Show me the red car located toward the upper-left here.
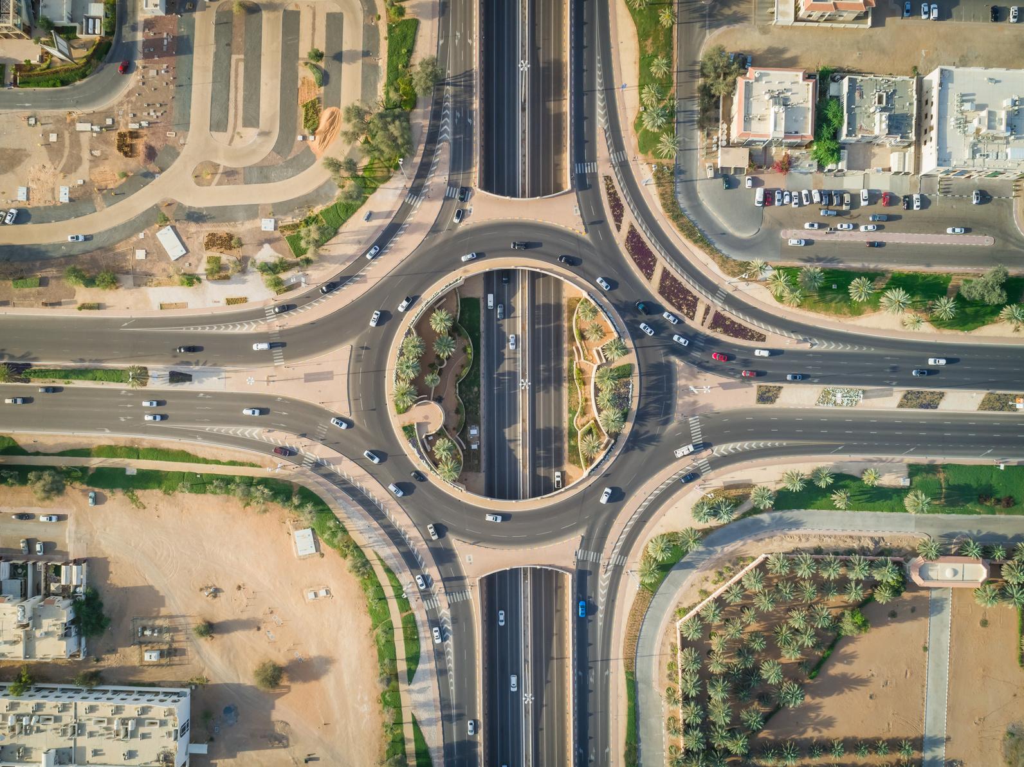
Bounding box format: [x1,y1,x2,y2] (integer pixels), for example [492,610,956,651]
[118,59,131,75]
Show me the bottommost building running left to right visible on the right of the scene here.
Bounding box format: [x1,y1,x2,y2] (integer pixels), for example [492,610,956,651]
[902,553,992,588]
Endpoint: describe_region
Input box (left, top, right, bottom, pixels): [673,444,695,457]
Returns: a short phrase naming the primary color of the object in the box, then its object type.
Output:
white vehicle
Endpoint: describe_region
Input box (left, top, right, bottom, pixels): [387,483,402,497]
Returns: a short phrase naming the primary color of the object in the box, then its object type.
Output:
white car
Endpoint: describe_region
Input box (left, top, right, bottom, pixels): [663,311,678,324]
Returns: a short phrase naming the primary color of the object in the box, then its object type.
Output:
white vehicle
